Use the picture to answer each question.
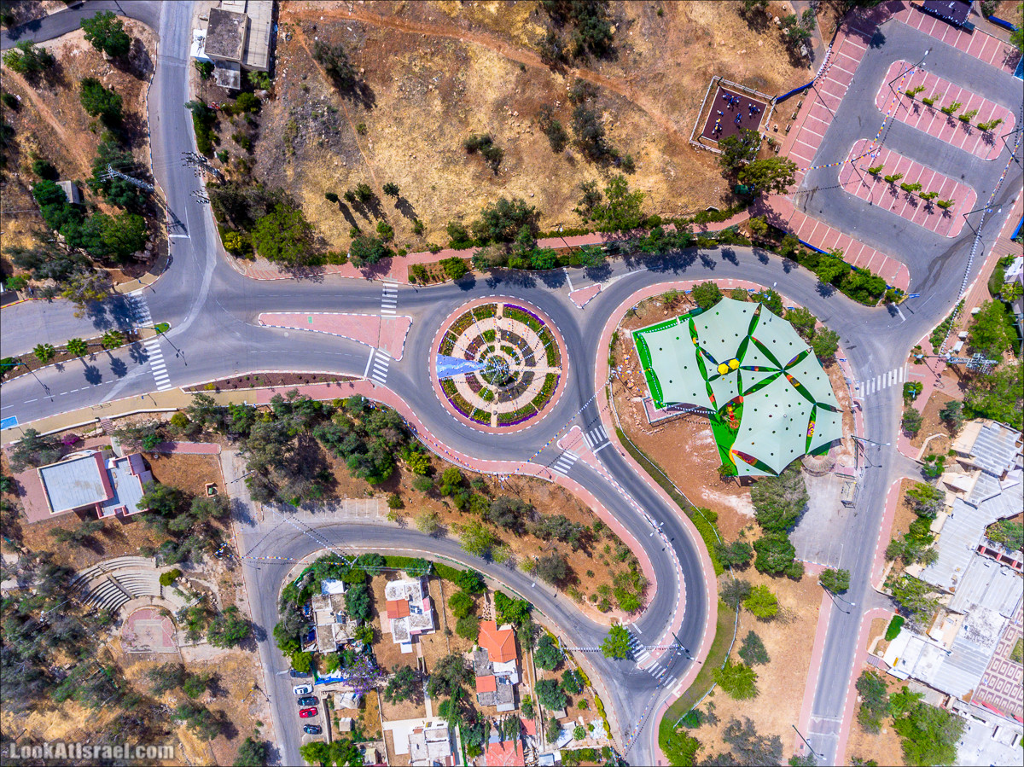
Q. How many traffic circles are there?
1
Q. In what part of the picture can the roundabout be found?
center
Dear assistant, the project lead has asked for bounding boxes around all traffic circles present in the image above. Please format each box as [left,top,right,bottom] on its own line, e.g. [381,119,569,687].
[413,279,584,450]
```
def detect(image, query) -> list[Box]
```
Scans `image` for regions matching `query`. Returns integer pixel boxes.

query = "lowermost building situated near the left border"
[36,449,160,518]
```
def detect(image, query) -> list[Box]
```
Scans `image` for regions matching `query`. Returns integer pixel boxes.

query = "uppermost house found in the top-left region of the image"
[204,0,279,93]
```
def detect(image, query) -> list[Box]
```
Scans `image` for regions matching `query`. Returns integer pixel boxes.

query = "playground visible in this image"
[631,300,841,477]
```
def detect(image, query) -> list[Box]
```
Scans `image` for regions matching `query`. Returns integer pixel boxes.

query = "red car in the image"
[297,707,319,720]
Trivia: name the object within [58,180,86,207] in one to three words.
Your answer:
shed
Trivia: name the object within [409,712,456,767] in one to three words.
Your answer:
house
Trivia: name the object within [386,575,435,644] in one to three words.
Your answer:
house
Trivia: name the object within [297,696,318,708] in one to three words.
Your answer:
vehicle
